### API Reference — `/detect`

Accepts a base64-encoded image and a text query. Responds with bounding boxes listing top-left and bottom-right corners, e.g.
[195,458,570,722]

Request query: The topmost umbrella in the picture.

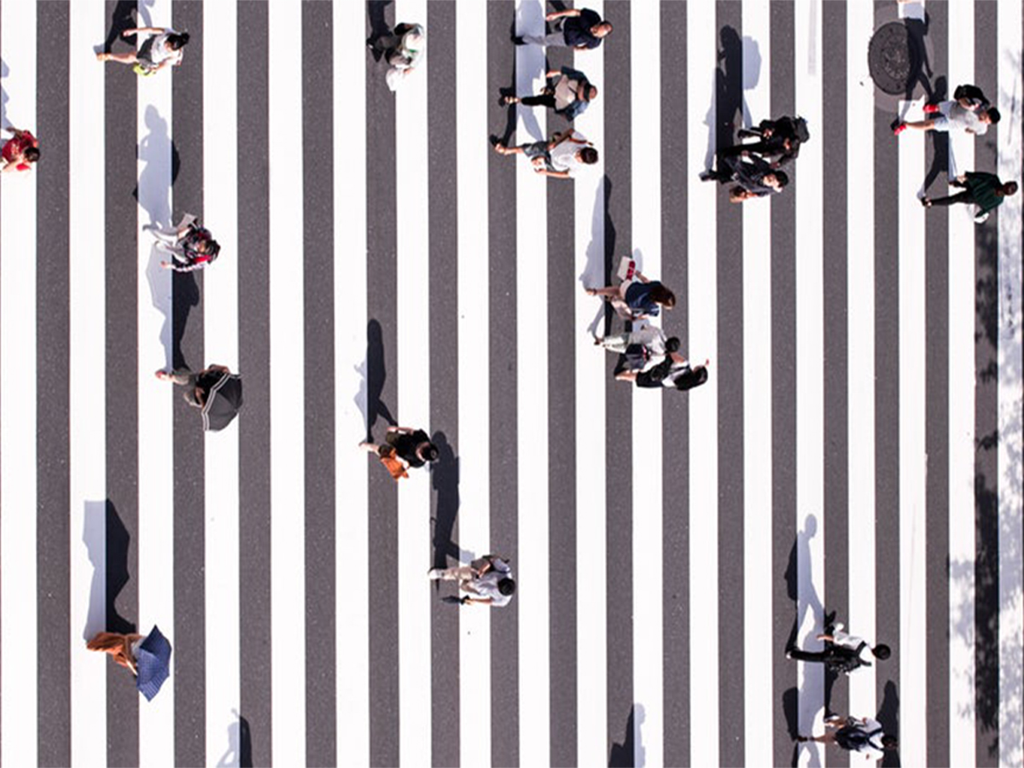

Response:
[206,369,247,436]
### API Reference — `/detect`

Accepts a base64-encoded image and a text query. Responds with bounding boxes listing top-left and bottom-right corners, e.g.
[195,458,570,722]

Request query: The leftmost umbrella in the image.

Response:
[109,625,176,701]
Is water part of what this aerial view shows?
No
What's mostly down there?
paved ground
